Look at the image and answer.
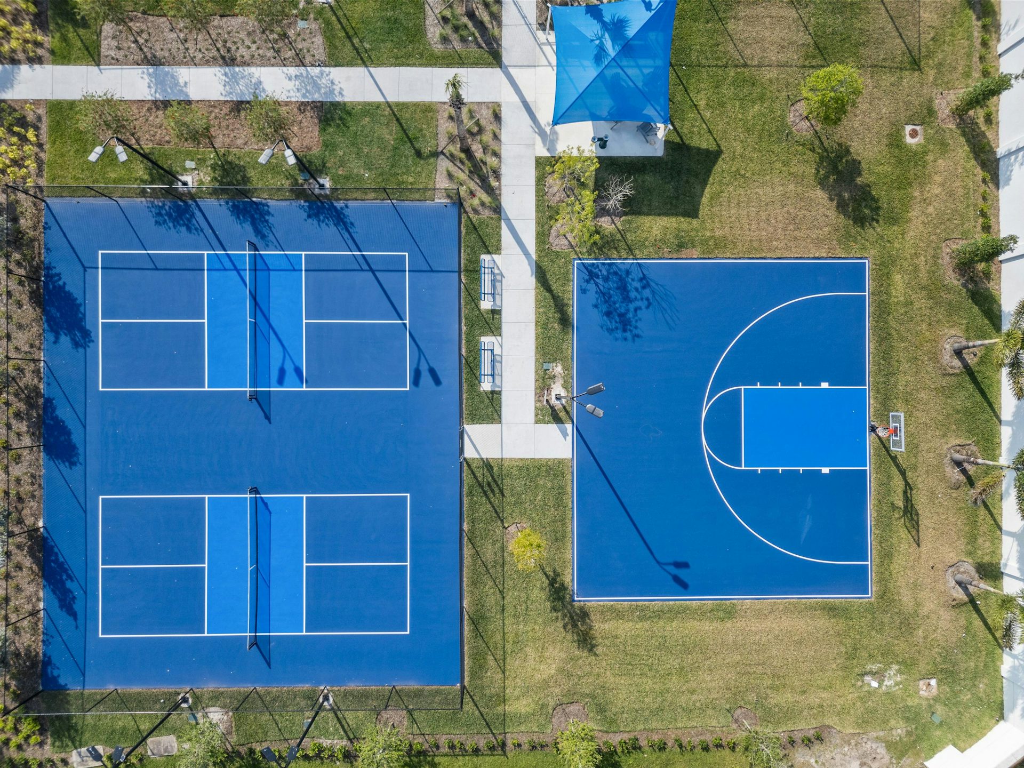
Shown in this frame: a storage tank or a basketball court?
basketball court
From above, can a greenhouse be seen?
No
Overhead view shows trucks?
No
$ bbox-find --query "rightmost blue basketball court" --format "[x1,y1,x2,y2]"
[572,258,873,603]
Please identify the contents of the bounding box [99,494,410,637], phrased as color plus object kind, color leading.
blue sports court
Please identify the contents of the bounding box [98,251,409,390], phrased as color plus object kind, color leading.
blue sports court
